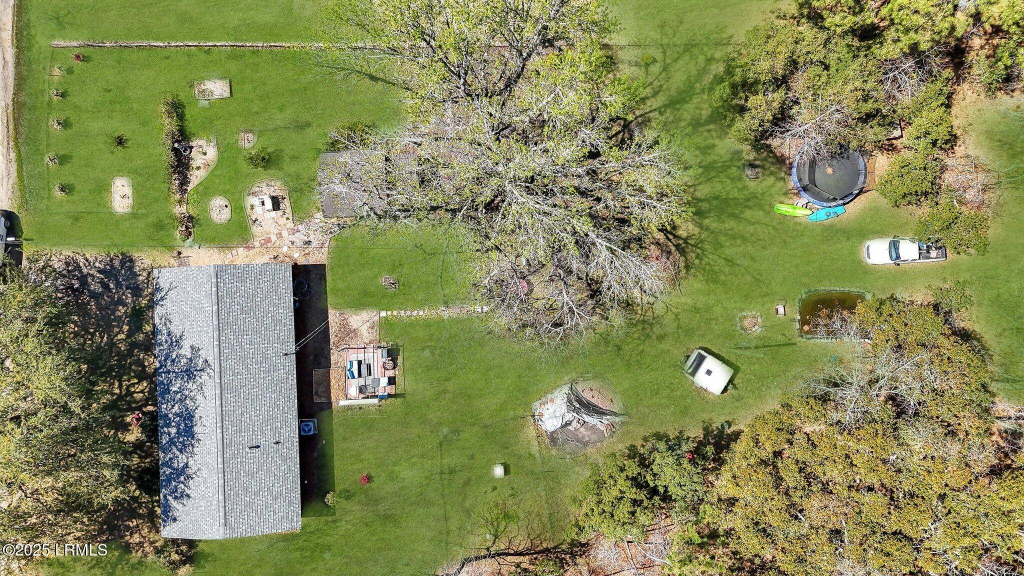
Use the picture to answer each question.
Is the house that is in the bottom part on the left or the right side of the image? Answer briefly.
left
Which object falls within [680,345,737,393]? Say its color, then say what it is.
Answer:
white trailer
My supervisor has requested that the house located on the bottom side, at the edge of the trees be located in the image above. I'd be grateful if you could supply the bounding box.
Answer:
[152,264,307,542]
